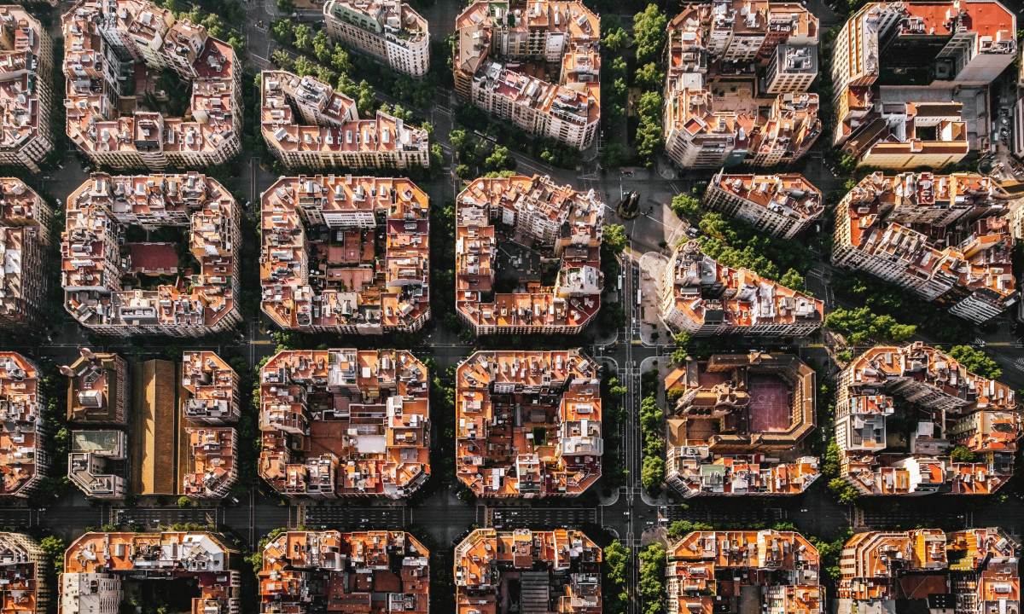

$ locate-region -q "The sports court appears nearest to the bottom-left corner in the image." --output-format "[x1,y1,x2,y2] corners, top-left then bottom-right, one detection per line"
[75,431,117,450]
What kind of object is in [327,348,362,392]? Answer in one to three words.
building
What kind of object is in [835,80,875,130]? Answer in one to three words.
building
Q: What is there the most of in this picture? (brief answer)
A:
buildings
